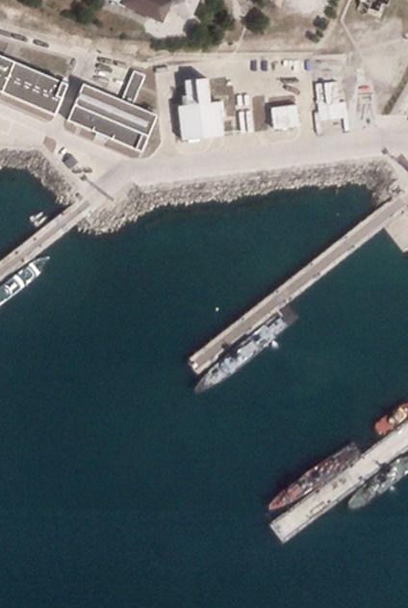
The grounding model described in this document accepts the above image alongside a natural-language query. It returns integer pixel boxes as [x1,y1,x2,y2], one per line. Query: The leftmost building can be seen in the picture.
[0,55,69,118]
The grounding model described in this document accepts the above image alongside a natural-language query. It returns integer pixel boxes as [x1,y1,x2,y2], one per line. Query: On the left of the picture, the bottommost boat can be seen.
[0,259,46,307]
